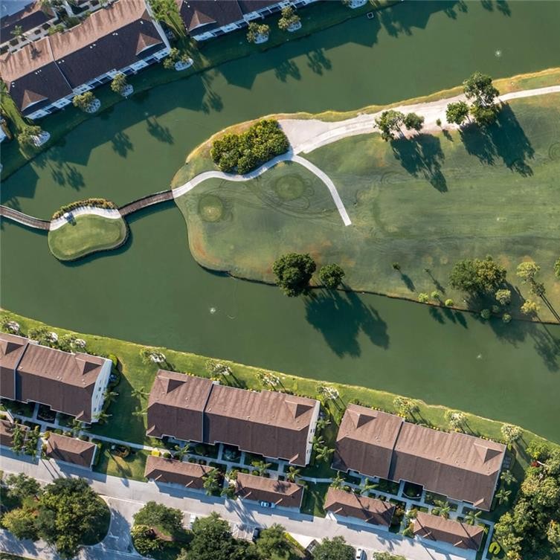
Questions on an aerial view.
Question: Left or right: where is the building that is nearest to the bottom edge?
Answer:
right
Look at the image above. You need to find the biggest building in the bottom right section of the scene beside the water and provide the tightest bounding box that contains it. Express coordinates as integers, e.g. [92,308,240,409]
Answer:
[329,404,507,515]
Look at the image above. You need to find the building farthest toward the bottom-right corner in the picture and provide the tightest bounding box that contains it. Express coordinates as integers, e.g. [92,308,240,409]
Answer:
[412,511,486,552]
